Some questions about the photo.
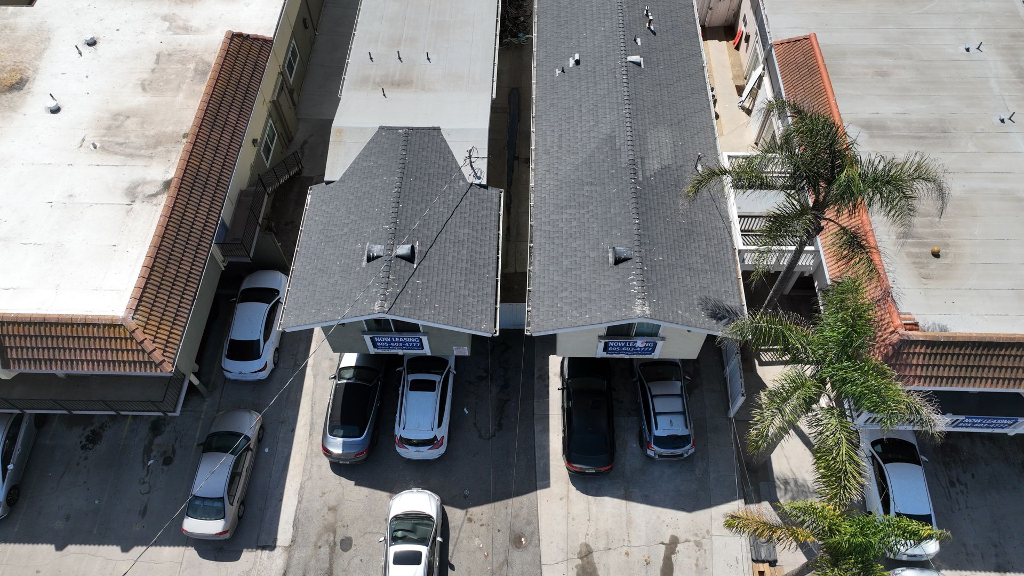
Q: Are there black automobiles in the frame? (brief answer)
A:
Yes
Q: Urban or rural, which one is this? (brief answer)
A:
urban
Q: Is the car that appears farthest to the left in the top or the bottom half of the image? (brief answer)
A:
bottom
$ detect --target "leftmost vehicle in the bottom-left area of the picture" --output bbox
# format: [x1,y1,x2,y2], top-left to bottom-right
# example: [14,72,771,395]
[0,411,43,514]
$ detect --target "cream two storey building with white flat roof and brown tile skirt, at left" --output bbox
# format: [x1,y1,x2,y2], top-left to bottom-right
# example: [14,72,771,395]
[0,0,326,416]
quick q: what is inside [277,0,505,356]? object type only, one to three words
building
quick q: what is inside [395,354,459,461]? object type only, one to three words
car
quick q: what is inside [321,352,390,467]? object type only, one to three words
car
